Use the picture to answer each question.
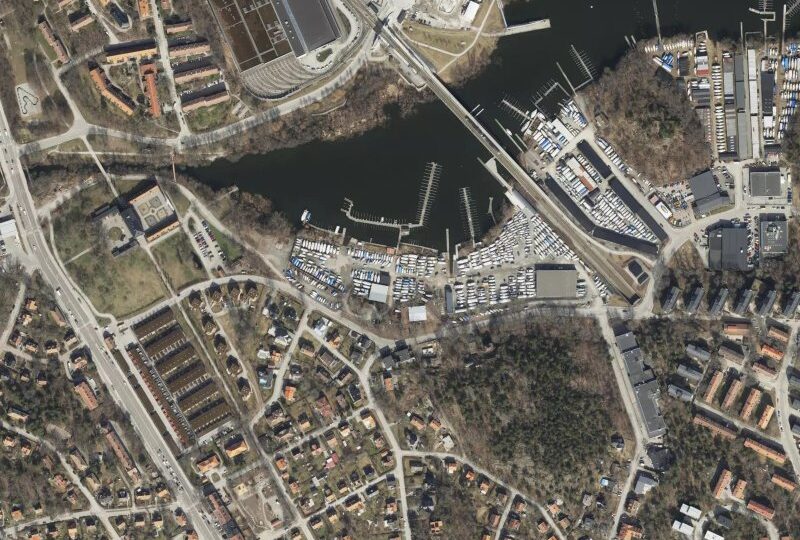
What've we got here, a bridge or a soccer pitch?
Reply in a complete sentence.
I can see a bridge in this picture.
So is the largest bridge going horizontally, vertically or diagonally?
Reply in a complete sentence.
The largest bridge runs diagonally in the image.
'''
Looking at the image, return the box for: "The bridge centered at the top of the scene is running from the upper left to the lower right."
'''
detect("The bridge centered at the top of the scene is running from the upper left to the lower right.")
[419,65,525,181]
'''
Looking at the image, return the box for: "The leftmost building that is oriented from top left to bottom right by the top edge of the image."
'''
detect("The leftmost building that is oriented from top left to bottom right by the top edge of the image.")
[38,22,69,61]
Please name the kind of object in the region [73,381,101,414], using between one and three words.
building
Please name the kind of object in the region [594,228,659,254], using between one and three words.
shed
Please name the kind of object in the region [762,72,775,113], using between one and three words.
shed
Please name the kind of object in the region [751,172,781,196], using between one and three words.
building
